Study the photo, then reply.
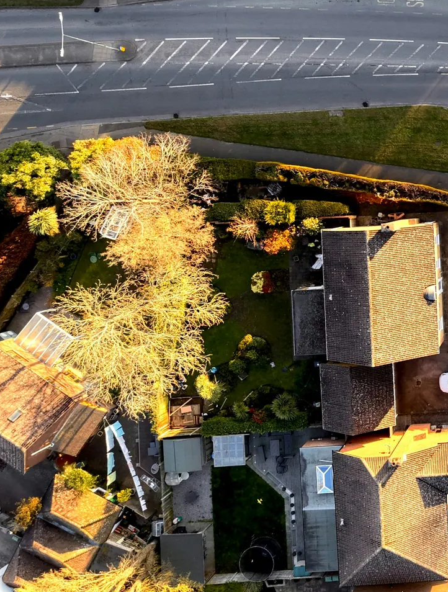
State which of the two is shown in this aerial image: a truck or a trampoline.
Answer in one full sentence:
Looking from above, you can make out a trampoline.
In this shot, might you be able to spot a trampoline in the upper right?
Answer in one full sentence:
No, no trampoline is visible in the upper right.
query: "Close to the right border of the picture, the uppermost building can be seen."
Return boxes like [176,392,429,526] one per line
[320,215,445,365]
